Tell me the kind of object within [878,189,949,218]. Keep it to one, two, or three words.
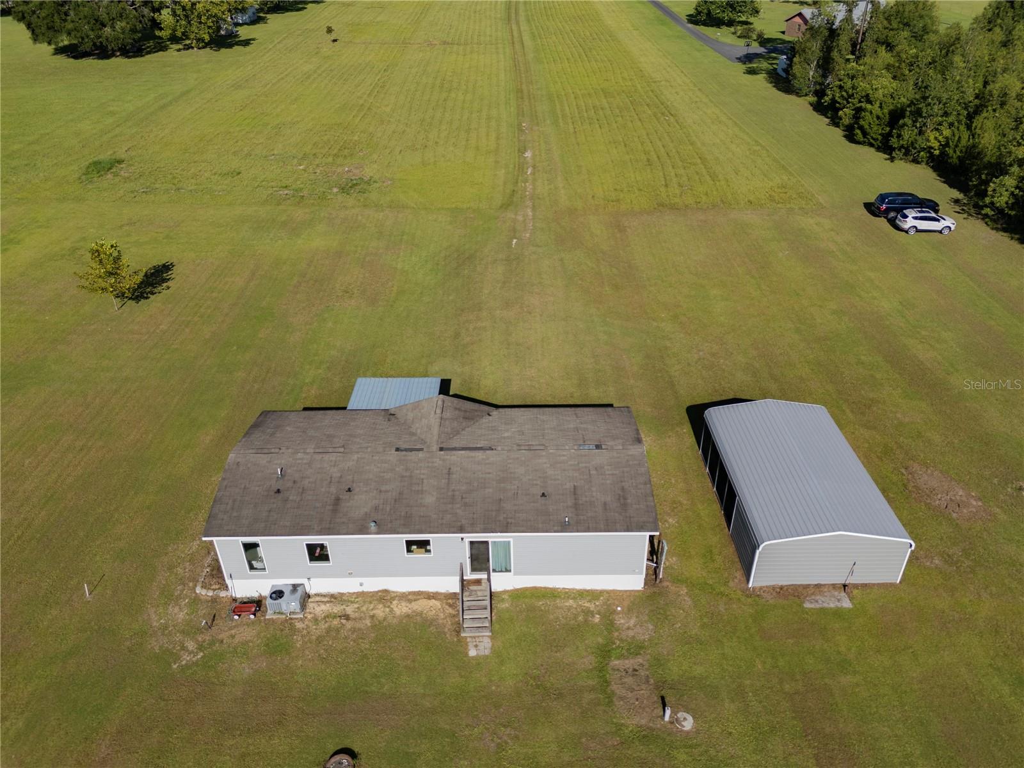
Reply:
car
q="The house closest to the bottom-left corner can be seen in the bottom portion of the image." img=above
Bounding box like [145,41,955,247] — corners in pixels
[202,394,661,596]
